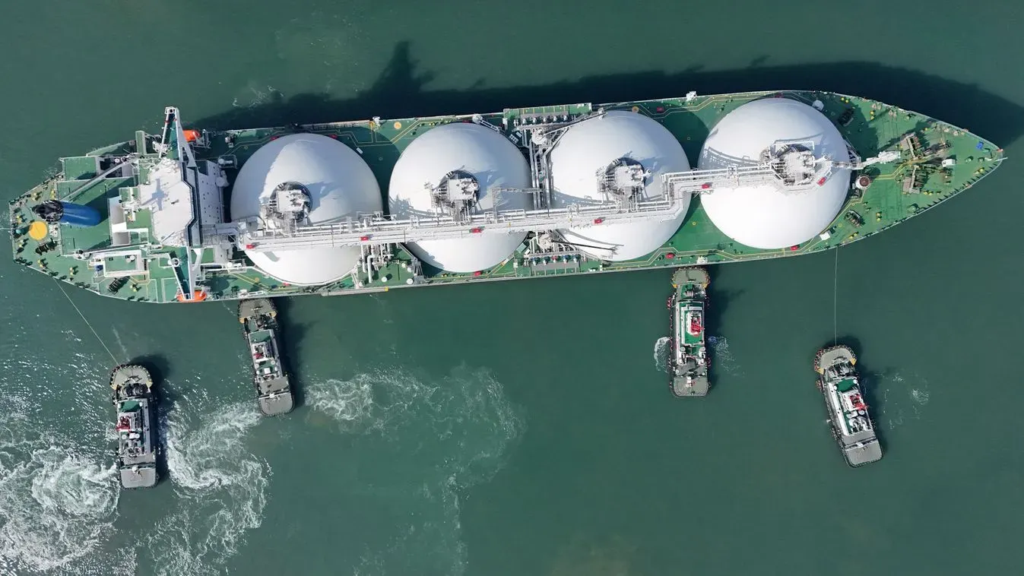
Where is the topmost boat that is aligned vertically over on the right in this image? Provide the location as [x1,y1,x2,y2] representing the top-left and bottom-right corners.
[667,268,713,396]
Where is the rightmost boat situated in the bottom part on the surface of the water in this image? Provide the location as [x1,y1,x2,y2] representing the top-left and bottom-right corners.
[816,344,884,468]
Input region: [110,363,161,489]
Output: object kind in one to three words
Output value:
boat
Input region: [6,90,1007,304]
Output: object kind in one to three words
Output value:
ship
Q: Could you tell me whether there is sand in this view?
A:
No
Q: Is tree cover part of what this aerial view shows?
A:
No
